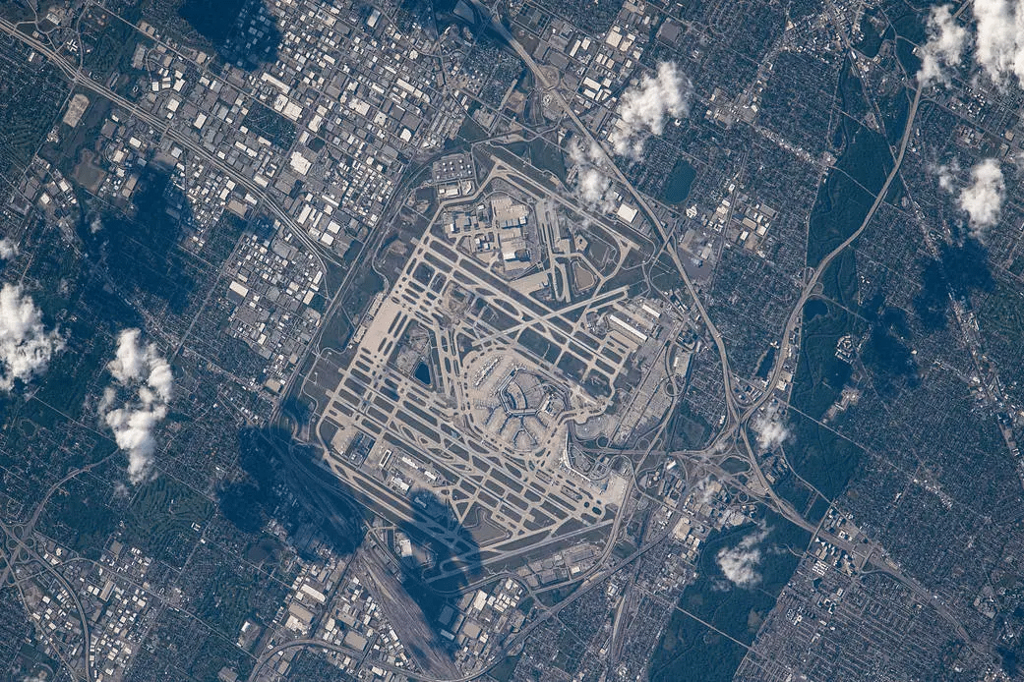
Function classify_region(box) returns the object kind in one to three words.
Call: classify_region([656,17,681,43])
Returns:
building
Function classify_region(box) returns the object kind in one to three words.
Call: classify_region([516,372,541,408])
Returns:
building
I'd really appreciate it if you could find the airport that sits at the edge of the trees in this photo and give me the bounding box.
[291,147,679,596]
